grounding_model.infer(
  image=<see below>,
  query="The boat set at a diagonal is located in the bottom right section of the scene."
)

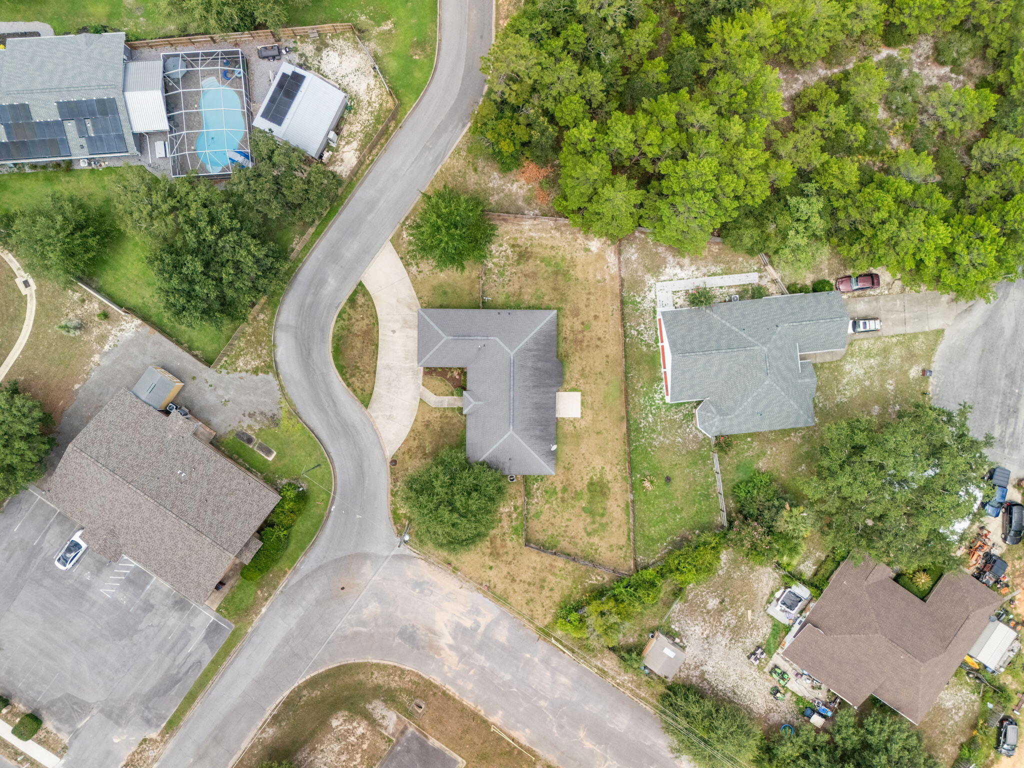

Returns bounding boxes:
[968,657,983,672]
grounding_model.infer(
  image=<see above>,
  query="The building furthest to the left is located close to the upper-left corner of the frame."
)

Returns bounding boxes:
[0,31,152,170]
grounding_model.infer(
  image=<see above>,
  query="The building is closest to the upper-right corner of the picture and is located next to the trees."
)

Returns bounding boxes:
[653,292,849,438]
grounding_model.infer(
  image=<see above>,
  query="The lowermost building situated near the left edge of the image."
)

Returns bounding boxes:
[43,388,283,604]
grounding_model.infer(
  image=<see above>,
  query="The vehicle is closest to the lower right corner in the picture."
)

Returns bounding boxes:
[993,714,1019,756]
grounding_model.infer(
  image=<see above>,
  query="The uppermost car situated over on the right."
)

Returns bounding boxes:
[834,273,880,294]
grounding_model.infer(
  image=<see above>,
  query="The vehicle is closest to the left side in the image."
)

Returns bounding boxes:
[52,527,87,570]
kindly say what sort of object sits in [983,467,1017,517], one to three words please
truck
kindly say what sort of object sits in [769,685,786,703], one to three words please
work vehicle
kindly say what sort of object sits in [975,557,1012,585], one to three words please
vehicle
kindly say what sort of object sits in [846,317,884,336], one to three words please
car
